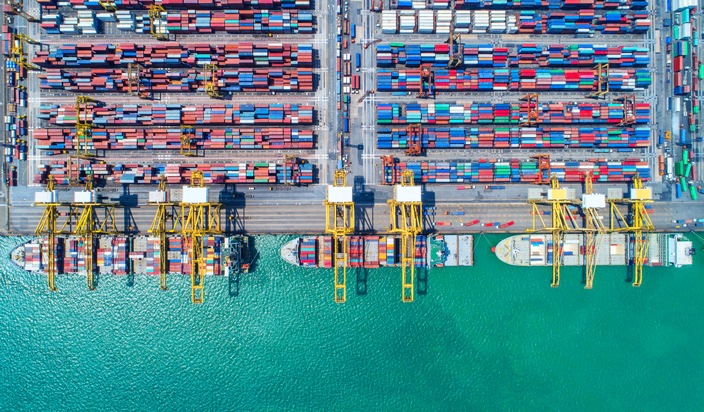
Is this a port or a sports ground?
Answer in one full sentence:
This looks like a port.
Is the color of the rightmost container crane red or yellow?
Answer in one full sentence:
The color of the rightmost container crane is yellow.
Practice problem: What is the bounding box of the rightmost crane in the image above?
[602,179,657,289]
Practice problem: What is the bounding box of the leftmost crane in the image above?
[33,176,90,292]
